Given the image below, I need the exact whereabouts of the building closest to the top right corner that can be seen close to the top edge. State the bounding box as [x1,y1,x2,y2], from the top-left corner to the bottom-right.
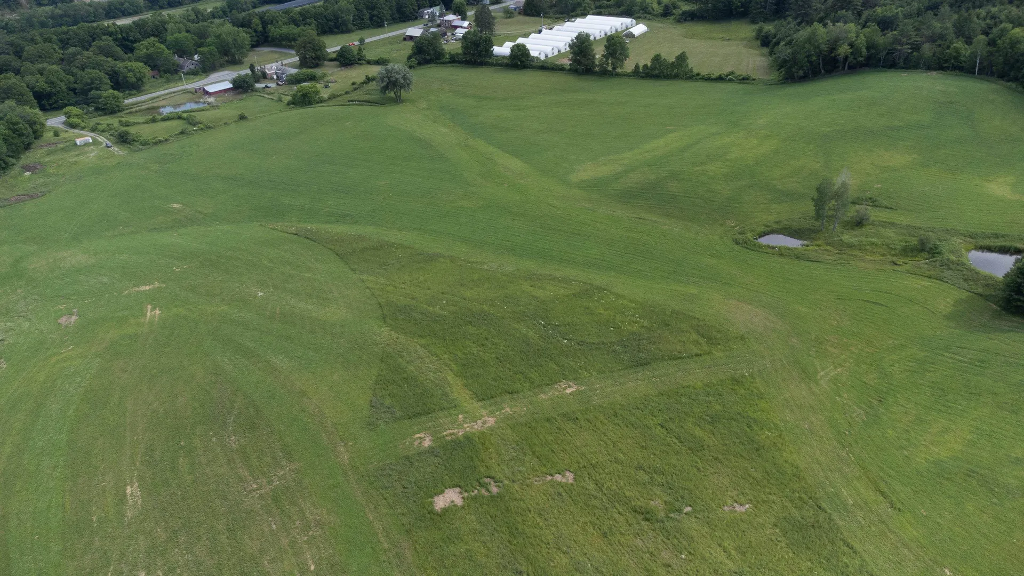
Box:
[623,22,655,38]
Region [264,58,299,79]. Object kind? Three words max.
house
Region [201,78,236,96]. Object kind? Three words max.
barn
